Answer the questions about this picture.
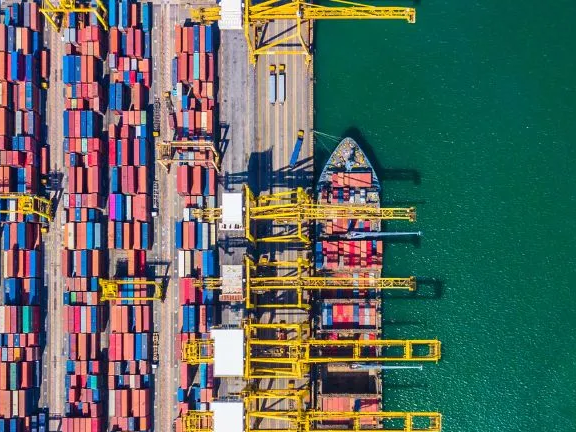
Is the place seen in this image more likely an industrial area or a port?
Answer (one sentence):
What you see here is a port.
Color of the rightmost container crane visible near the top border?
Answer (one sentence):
The color of the rightmost container crane visible near the top border is yellow.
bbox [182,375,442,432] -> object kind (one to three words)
container crane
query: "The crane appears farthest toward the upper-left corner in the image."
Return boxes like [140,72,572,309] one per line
[42,0,110,34]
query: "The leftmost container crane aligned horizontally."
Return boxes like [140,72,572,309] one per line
[0,193,52,222]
